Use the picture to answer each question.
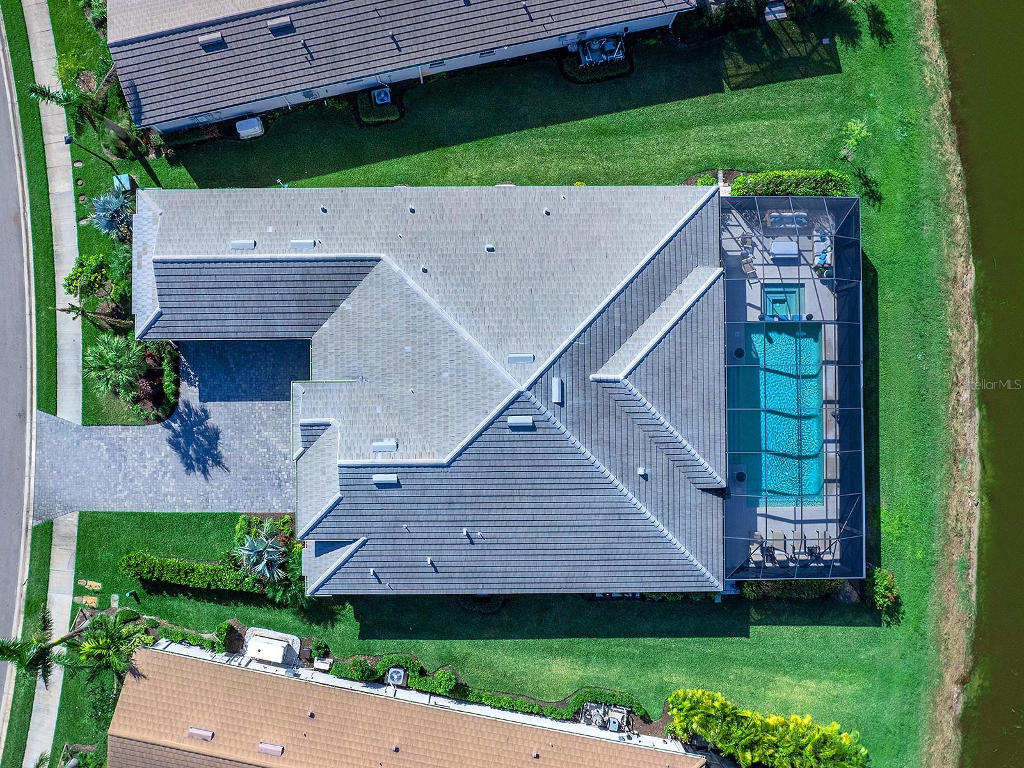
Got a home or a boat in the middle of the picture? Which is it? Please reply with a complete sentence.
The one visible in the middle of the picture is a home.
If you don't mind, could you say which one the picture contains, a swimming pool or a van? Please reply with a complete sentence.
Of the two, only a swimming pool appears.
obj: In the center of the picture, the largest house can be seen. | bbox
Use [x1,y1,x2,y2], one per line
[134,184,728,597]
